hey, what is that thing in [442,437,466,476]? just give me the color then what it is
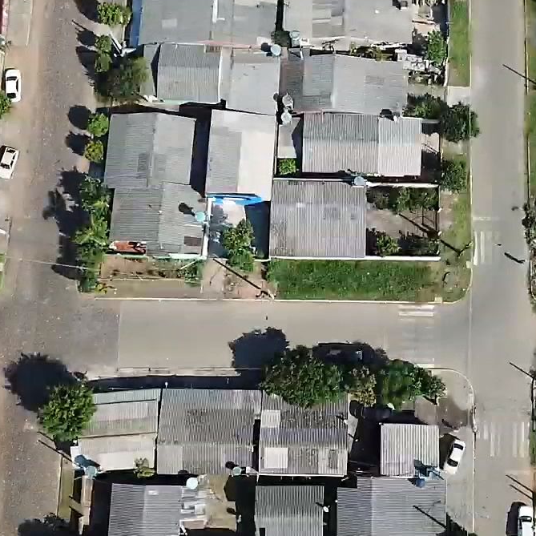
white car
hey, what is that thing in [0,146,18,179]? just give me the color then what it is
white car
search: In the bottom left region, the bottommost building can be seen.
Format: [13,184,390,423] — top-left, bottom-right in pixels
[108,484,182,536]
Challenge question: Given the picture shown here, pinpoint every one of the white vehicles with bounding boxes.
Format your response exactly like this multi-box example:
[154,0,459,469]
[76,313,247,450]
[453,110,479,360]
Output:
[0,146,18,179]
[442,437,466,476]
[516,505,535,536]
[3,71,21,102]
